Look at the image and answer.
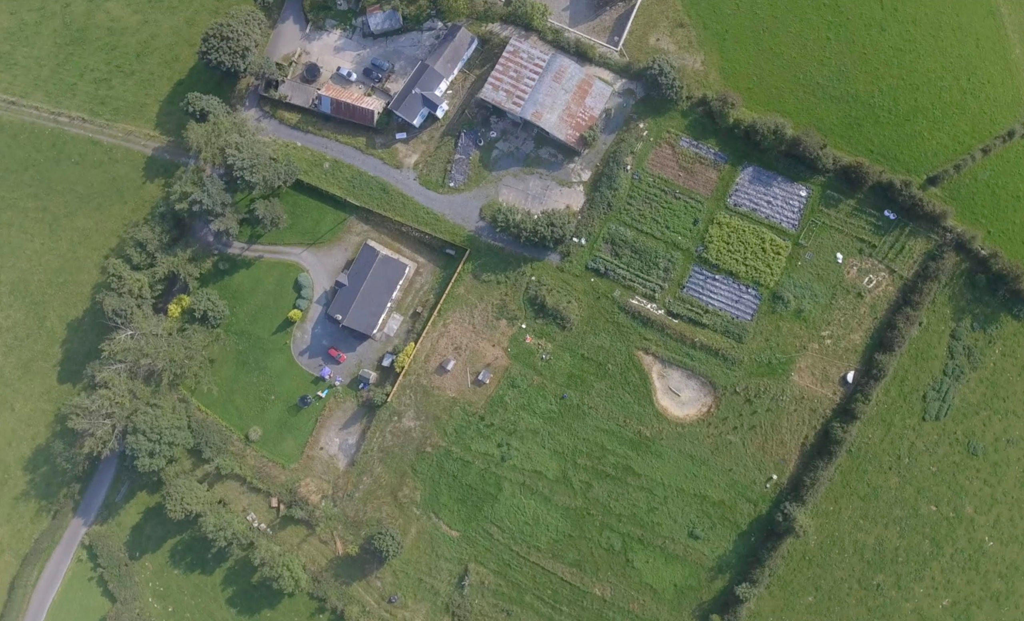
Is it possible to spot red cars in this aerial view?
Yes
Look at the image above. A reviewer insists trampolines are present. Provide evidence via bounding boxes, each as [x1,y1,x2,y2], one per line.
[302,62,320,81]
[295,394,313,409]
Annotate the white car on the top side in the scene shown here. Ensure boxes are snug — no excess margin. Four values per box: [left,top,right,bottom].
[335,65,359,83]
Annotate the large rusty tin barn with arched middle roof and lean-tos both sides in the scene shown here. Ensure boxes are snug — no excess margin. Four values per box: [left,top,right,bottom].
[477,38,613,155]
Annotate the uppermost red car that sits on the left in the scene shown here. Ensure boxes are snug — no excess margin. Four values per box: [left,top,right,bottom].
[326,347,348,364]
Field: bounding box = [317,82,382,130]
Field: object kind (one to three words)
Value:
shed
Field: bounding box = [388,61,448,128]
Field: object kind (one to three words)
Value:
house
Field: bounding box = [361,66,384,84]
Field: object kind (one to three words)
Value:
car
